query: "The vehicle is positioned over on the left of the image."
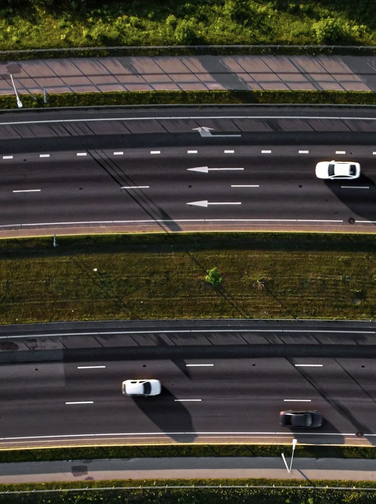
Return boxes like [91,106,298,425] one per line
[122,379,161,398]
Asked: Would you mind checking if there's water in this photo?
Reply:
No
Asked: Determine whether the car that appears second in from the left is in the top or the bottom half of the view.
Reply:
bottom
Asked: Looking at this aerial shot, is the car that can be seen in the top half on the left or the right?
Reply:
right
